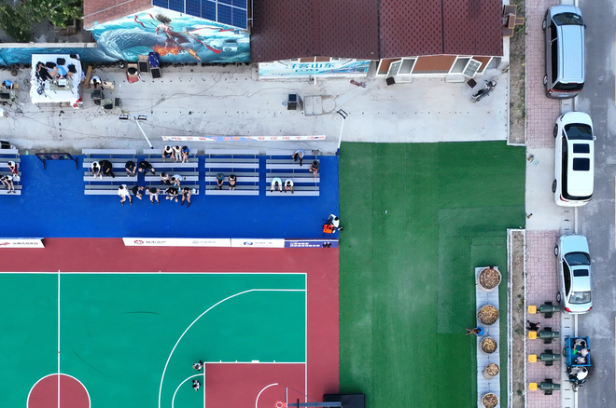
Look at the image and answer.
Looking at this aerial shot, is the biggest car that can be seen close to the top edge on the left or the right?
right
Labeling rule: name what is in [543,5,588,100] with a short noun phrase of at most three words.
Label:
car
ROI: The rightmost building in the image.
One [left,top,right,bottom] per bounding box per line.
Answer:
[376,0,502,91]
